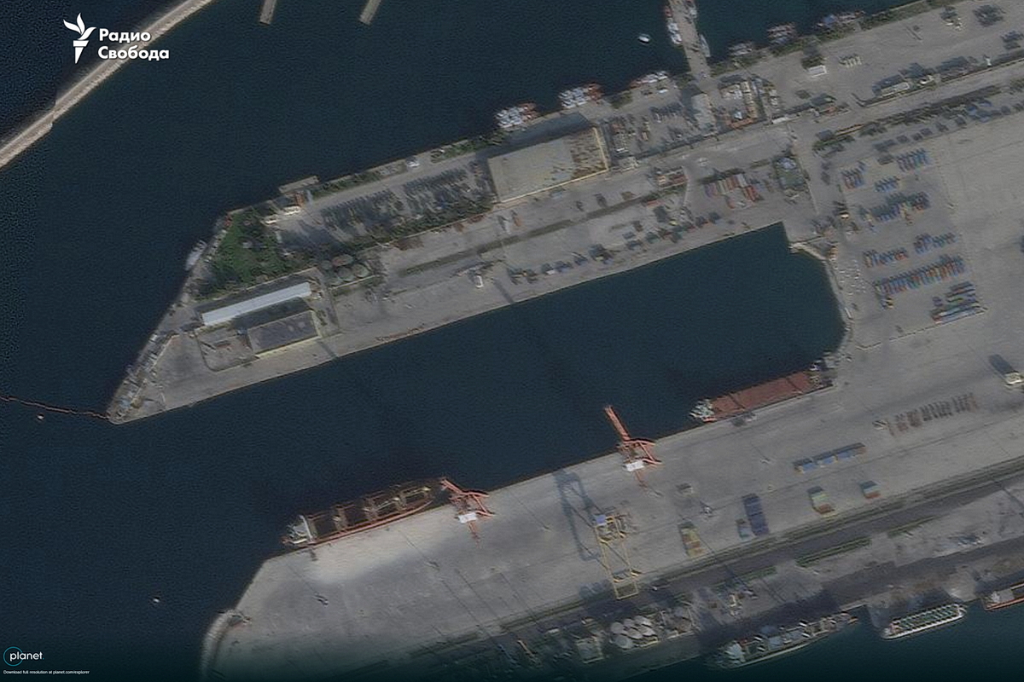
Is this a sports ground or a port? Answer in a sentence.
What you see here is a port.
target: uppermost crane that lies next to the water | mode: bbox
[602,405,664,492]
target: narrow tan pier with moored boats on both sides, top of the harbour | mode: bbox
[670,0,710,71]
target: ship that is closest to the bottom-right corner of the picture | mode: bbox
[981,584,1024,613]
